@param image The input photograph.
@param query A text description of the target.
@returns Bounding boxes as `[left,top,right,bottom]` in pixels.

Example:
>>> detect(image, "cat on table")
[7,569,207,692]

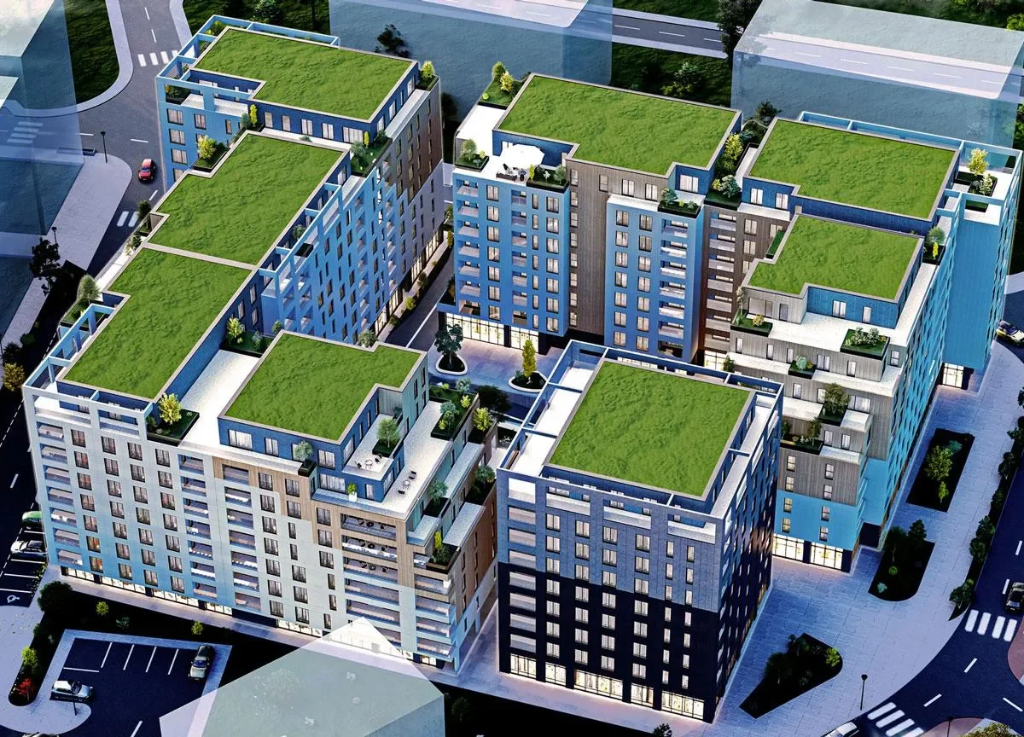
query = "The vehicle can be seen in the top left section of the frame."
[138,161,155,180]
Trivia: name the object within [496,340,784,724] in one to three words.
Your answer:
building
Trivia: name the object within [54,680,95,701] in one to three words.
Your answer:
car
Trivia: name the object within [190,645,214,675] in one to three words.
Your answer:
car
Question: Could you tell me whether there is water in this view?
No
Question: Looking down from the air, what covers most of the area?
buildings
